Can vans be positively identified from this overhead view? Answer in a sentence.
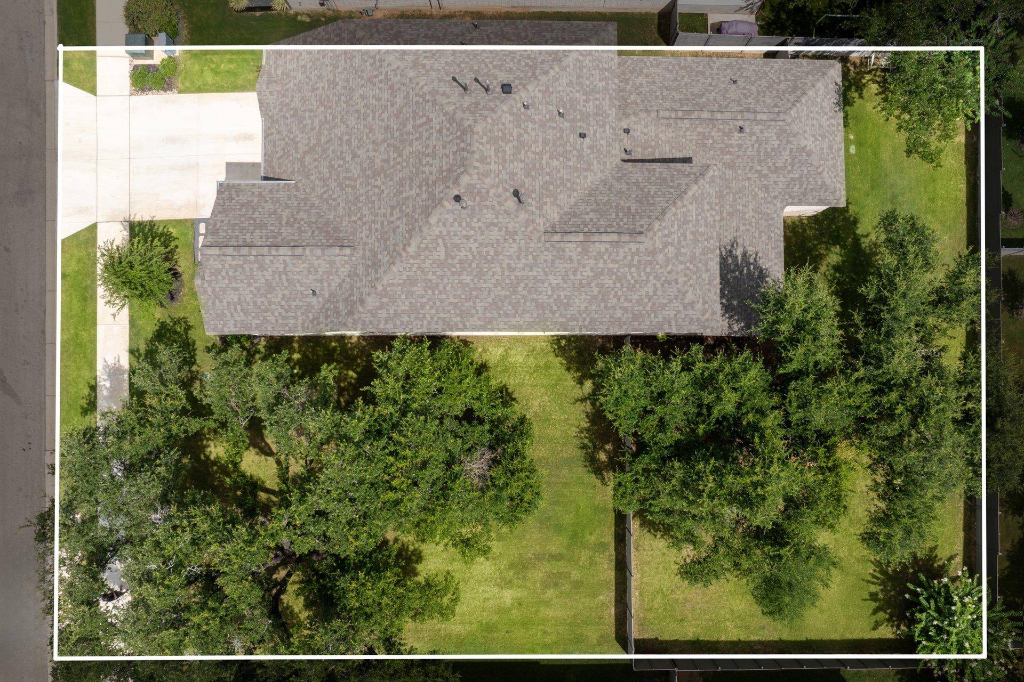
No, there appears to be no van in this shot.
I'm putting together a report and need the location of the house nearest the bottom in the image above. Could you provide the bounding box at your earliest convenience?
[195,17,847,339]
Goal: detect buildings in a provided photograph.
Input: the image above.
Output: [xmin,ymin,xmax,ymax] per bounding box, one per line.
[285,0,763,12]
[195,17,847,339]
